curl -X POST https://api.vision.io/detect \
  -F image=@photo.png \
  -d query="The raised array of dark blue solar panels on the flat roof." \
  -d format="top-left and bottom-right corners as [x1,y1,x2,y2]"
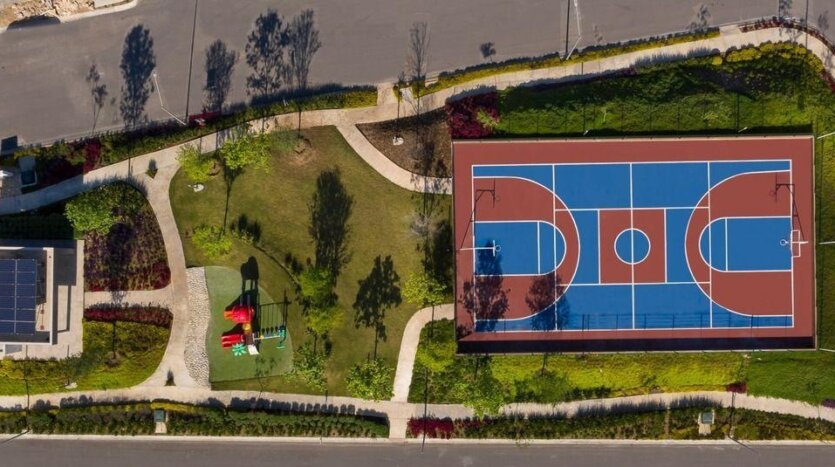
[0,258,40,336]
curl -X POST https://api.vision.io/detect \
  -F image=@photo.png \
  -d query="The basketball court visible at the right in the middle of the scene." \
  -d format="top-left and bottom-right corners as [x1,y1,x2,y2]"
[453,137,815,353]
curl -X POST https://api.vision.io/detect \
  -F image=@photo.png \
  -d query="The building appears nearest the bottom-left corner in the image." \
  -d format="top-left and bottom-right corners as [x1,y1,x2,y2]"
[0,247,70,344]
